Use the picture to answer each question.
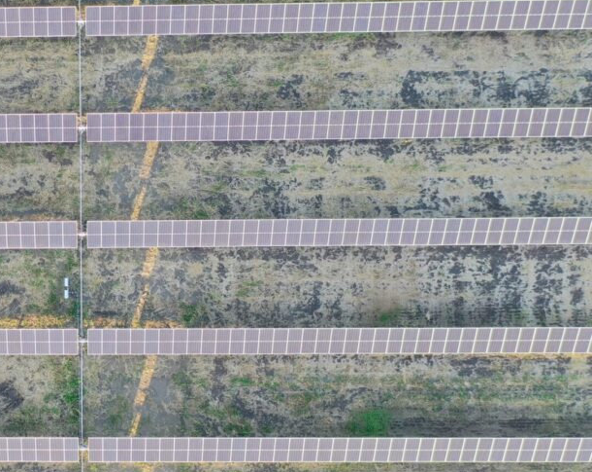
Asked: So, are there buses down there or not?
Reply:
No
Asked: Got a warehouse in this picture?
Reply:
No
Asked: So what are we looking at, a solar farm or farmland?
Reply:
solar farm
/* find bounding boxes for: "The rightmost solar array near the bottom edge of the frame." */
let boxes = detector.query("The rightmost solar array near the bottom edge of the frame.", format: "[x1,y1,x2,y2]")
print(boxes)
[88,438,592,461]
